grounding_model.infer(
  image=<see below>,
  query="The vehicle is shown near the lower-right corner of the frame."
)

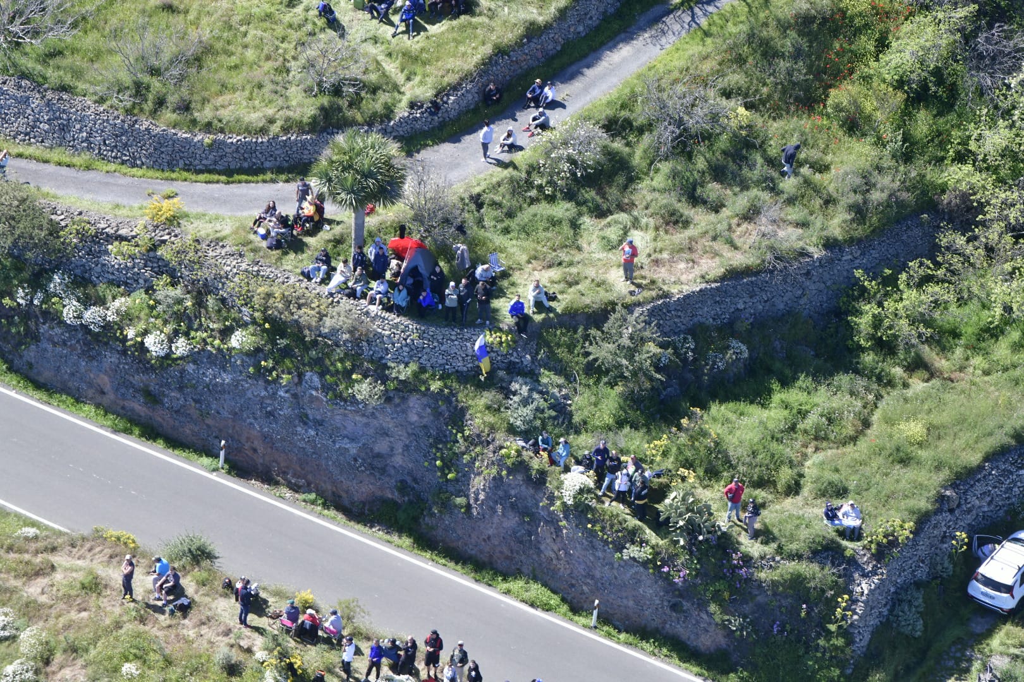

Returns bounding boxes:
[968,518,1024,613]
